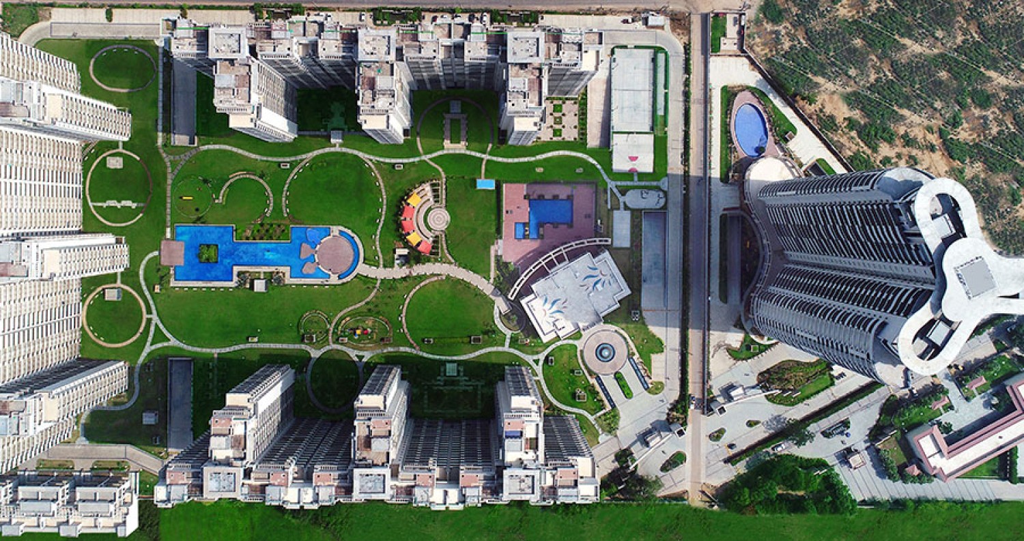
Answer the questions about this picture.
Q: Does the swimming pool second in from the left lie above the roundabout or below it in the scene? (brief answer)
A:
above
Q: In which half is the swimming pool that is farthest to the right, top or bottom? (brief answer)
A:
top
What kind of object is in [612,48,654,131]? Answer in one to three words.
sports court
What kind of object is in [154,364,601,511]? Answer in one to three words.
building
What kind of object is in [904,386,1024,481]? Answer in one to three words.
house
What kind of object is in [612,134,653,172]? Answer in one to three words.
sports court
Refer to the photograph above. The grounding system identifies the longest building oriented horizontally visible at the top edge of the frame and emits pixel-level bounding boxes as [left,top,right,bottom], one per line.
[170,17,606,147]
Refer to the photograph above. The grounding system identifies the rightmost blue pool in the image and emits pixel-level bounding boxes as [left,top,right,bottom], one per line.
[731,91,776,161]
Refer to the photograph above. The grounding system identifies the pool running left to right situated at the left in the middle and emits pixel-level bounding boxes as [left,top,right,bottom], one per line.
[160,224,365,286]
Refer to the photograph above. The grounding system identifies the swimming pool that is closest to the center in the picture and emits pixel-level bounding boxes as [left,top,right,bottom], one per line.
[502,182,598,270]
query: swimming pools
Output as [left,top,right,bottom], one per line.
[731,91,776,161]
[502,182,598,270]
[160,224,365,286]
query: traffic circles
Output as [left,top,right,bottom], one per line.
[578,325,632,376]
